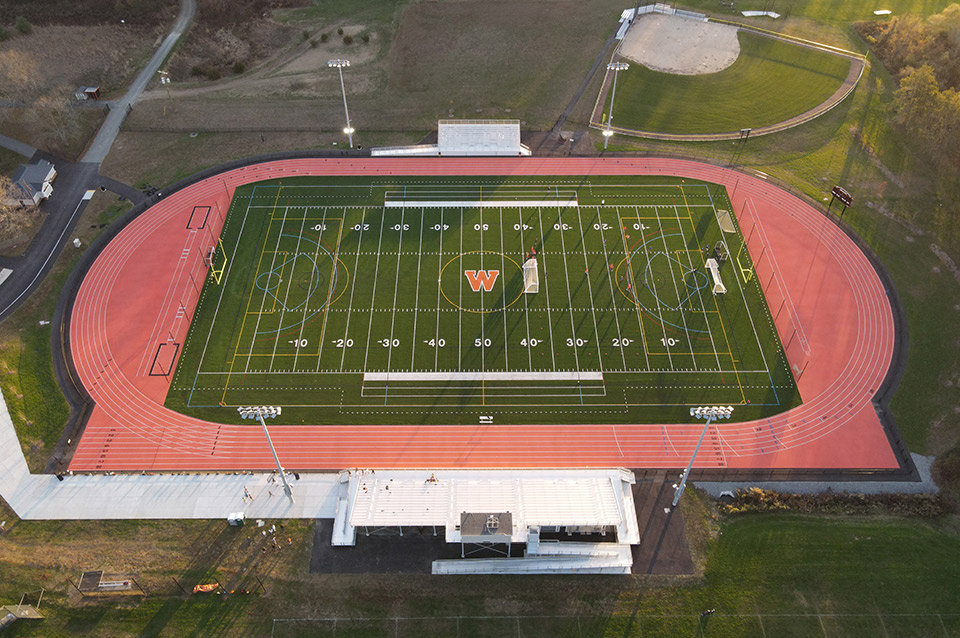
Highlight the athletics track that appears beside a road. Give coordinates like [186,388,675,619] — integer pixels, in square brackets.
[68,156,899,471]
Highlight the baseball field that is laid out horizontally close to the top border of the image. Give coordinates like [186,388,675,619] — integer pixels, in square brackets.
[591,14,865,141]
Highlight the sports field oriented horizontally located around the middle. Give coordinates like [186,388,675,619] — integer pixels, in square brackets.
[163,174,802,425]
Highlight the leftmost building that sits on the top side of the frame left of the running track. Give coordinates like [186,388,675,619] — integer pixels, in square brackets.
[3,156,64,212]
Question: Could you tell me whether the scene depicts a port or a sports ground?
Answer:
sports ground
